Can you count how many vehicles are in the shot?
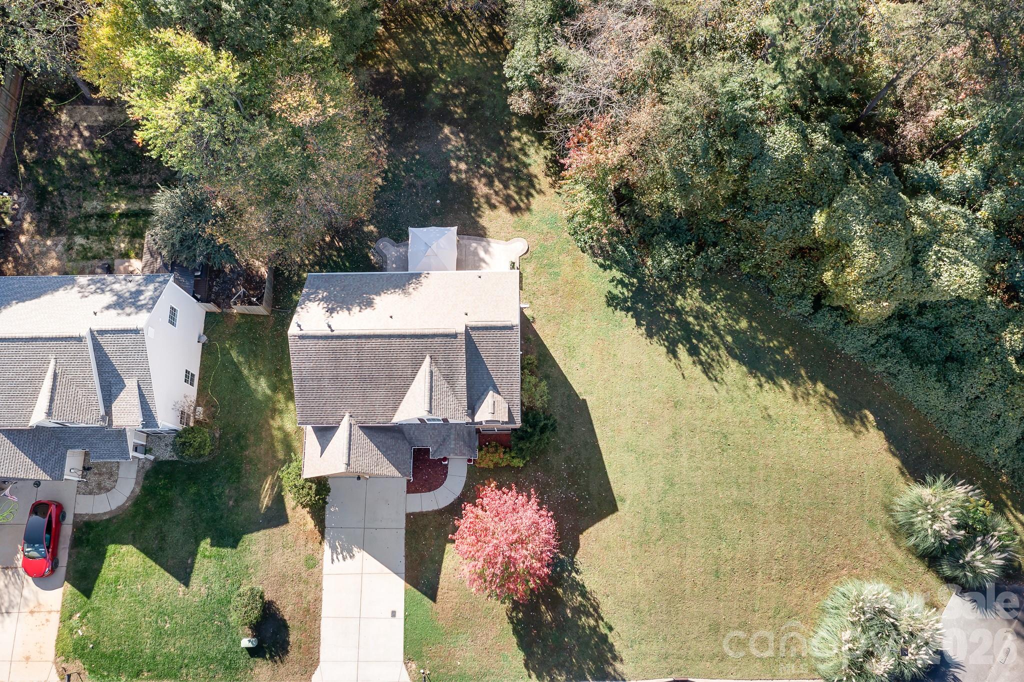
1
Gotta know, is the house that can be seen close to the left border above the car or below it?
above it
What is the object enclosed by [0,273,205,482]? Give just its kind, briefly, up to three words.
house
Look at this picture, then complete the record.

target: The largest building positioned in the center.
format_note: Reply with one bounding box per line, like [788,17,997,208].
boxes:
[288,270,522,482]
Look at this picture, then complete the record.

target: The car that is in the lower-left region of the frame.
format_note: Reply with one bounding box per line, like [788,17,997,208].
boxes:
[18,497,70,579]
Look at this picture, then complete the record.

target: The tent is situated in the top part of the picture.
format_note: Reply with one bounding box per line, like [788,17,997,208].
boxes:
[407,227,459,270]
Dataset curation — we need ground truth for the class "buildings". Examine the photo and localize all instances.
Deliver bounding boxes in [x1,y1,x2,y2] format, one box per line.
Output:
[0,273,205,482]
[288,270,522,482]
